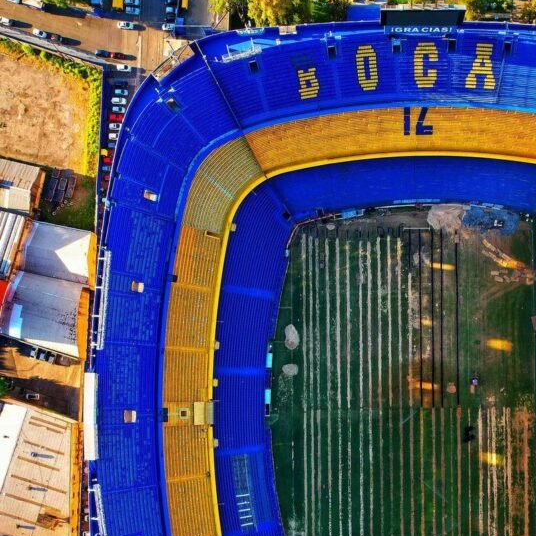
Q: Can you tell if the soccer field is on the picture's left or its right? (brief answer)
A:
right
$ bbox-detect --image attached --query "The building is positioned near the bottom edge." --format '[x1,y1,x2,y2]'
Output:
[0,401,83,536]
